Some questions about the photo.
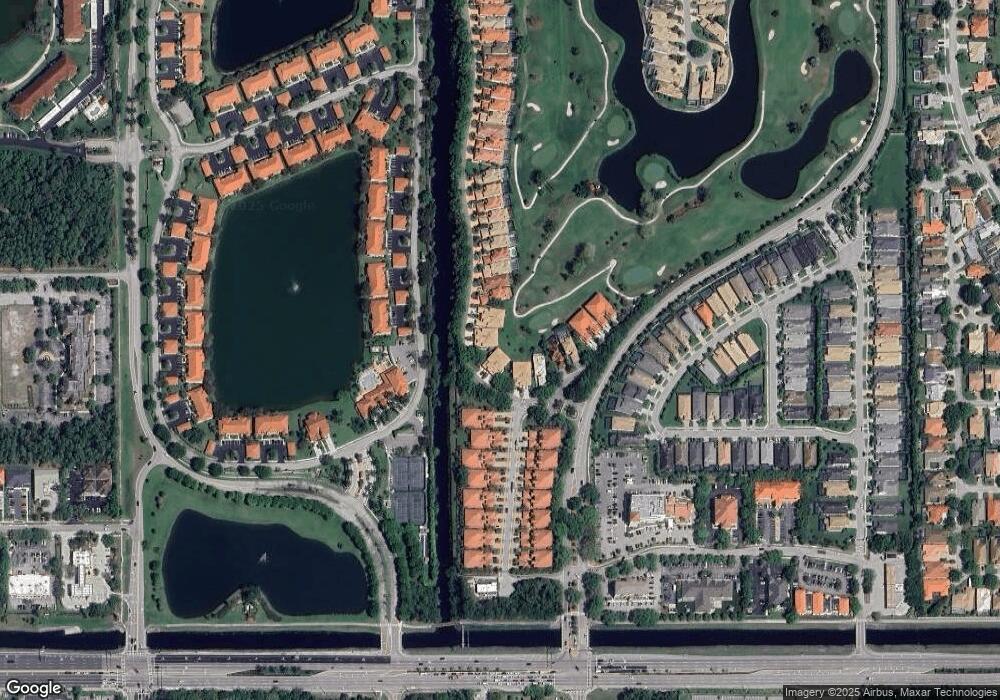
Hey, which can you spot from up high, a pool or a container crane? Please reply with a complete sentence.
I can see a pool in this picture.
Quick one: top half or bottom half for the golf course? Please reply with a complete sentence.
The top half of the photo is where the golf course is.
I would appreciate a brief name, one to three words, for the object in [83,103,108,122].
swimming pool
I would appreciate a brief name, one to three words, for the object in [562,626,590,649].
bridge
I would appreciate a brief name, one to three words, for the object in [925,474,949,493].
house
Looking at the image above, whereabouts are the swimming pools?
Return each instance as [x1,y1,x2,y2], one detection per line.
[358,371,378,391]
[83,103,108,122]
